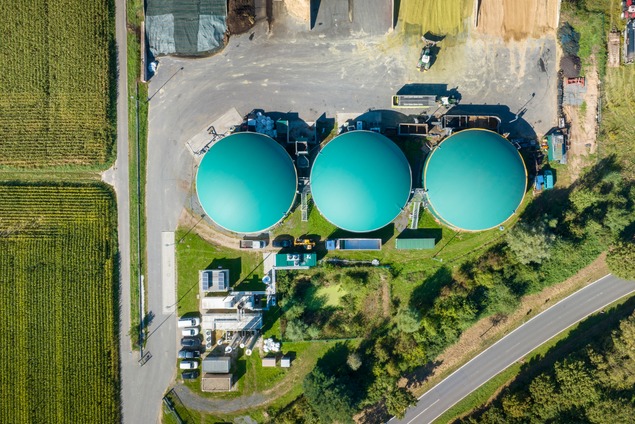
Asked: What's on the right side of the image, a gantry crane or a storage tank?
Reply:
storage tank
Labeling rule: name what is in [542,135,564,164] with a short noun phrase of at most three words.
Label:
shed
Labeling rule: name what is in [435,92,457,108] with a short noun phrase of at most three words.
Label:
work vehicle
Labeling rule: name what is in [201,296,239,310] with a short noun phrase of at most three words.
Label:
building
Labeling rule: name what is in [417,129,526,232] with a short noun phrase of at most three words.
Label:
storage tank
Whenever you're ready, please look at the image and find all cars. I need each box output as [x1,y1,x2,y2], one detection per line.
[180,369,199,379]
[180,327,200,337]
[180,337,202,347]
[272,239,292,249]
[180,360,199,369]
[179,348,200,358]
[177,317,201,327]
